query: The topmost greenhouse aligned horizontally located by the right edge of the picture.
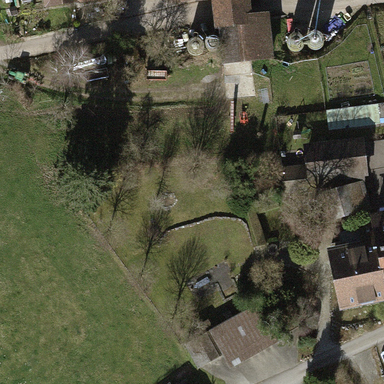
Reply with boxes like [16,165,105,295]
[326,104,380,129]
